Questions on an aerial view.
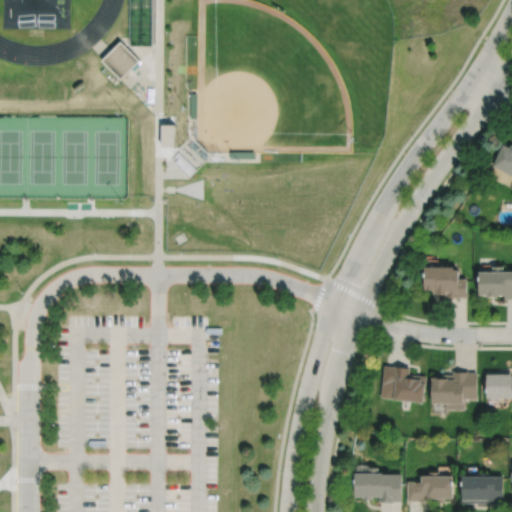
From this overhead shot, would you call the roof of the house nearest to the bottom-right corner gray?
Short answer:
Yes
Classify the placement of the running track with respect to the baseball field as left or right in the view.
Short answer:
to its left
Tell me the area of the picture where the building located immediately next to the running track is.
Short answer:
top left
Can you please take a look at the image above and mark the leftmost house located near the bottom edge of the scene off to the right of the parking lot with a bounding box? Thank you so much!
[353,474,403,503]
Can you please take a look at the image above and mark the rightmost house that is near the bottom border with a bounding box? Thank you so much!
[460,478,504,506]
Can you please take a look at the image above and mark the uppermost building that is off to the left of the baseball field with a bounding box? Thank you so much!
[102,42,139,80]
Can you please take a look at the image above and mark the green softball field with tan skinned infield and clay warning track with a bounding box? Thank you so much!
[198,0,354,153]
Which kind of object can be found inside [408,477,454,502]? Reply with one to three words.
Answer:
house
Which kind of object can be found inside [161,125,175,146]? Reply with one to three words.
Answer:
shed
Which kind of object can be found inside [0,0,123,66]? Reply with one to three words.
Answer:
running track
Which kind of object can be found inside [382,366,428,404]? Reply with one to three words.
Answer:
house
